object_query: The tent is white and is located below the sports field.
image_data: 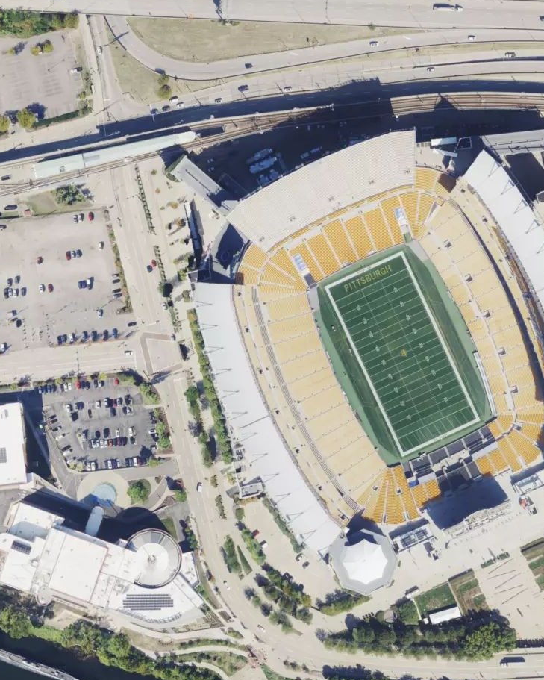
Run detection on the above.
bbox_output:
[430,607,461,624]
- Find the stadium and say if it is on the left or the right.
right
